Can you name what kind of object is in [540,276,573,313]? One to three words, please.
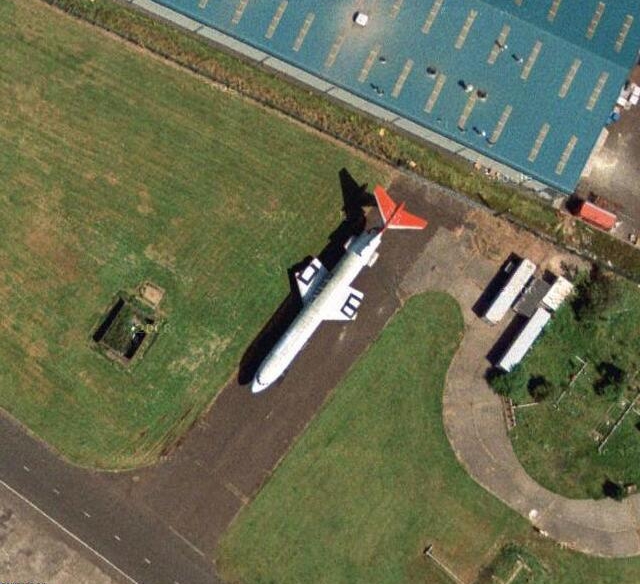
building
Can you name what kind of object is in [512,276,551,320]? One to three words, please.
shed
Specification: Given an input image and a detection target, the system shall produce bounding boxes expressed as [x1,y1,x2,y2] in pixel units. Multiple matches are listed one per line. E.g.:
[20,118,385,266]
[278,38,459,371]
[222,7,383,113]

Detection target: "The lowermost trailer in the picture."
[496,307,550,375]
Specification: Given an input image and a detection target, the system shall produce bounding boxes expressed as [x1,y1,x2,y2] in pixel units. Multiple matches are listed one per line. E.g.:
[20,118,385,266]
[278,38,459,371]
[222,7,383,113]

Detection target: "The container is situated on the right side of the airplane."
[576,202,615,230]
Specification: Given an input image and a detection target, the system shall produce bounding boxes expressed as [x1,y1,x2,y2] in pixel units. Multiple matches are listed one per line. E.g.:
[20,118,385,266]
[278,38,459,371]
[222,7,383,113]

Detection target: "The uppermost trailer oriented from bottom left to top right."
[482,259,536,326]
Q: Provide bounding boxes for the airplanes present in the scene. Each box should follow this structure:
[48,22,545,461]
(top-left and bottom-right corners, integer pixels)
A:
[252,183,429,392]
